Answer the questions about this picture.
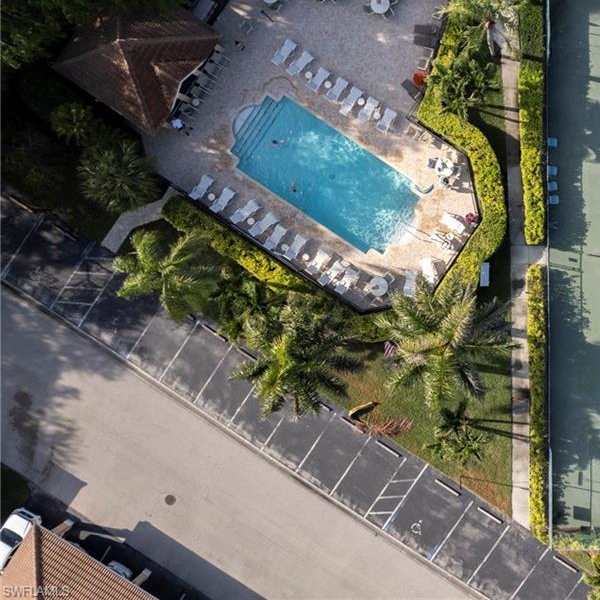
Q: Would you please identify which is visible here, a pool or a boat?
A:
pool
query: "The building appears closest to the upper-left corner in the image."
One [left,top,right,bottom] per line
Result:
[50,0,234,140]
